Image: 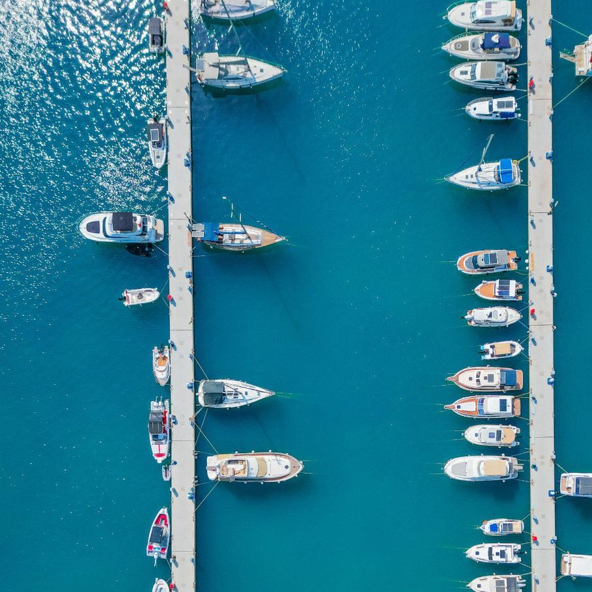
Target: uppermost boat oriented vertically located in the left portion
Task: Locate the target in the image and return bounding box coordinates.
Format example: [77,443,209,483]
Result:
[150,16,165,63]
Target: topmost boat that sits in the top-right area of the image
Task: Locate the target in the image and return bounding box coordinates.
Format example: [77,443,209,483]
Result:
[400,0,526,48]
